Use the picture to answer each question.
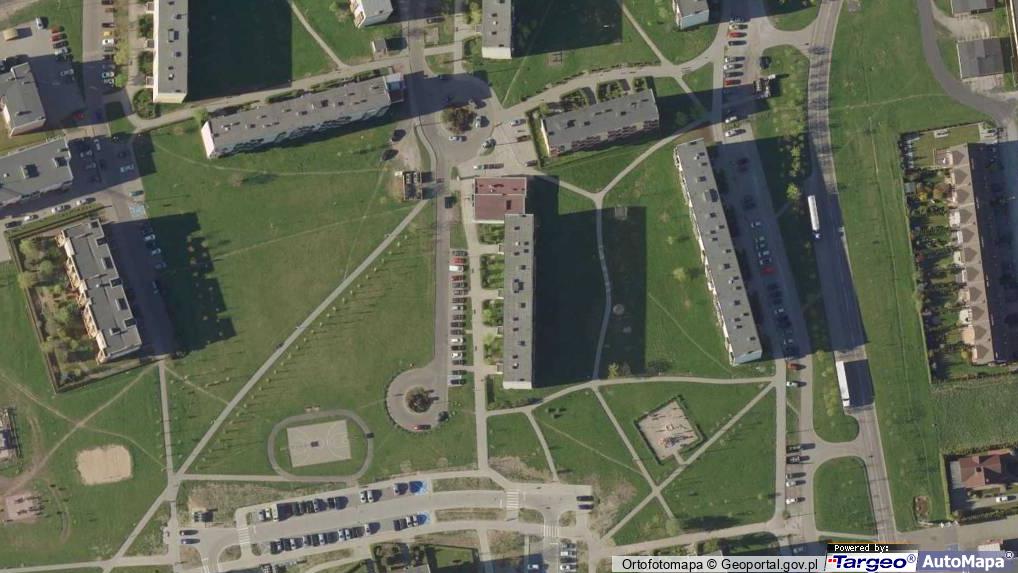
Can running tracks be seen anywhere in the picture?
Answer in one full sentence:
Yes, a running track appears in the view.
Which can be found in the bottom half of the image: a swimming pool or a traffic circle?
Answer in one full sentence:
The feature located in the bottom half of the image is a traffic circle.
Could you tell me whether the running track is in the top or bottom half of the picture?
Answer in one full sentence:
The bottom half of the photo is where the running track is.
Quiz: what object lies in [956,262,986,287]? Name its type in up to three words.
house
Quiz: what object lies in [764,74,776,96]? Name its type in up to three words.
vehicle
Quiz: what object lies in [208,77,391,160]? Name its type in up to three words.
building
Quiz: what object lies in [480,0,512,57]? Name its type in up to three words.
building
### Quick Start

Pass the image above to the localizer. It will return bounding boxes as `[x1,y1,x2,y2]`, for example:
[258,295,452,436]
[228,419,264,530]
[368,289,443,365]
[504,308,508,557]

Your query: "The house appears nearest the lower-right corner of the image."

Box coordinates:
[978,539,1007,572]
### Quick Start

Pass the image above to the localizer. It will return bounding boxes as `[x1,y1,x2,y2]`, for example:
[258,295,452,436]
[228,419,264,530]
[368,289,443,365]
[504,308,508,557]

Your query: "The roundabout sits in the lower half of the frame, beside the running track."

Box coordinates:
[387,360,448,432]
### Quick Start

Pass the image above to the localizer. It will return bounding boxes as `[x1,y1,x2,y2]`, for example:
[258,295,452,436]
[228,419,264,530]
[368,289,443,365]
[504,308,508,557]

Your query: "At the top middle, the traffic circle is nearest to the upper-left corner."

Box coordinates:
[419,74,503,166]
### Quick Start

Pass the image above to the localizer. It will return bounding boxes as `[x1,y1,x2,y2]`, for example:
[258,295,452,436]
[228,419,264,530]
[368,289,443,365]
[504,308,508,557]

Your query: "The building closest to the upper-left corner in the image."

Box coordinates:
[0,64,45,134]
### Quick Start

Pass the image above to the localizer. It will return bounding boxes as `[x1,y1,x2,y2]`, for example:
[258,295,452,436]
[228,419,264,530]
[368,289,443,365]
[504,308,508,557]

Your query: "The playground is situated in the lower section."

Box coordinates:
[637,399,698,459]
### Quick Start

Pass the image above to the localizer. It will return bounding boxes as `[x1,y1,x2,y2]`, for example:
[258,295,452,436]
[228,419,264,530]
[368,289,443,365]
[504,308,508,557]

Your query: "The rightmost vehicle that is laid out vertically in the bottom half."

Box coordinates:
[838,360,853,407]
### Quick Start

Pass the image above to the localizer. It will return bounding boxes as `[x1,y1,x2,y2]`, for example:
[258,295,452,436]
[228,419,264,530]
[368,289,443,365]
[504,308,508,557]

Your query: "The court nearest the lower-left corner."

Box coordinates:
[77,445,132,484]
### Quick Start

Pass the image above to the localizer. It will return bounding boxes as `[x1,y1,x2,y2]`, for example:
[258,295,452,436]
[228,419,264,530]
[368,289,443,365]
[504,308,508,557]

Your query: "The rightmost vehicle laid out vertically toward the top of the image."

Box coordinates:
[808,194,821,239]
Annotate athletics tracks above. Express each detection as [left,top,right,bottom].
[268,409,374,482]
